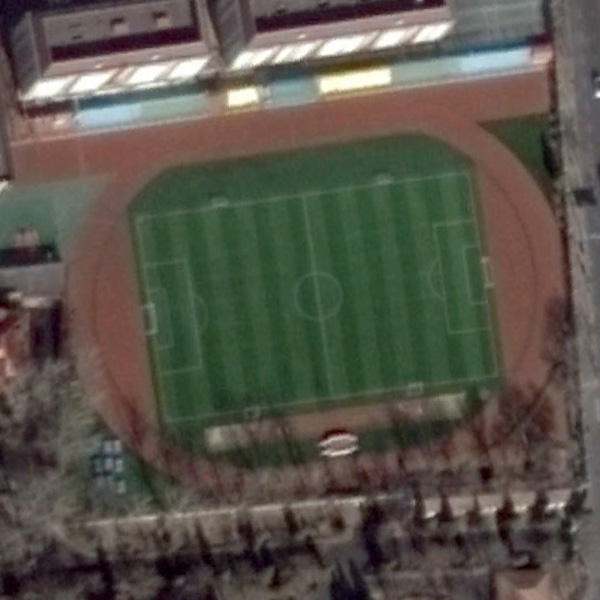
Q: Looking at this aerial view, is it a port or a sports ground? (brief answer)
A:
sports ground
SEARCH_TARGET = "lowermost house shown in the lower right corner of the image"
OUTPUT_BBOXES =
[490,568,553,600]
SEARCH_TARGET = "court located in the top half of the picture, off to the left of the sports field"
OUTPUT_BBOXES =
[0,175,114,269]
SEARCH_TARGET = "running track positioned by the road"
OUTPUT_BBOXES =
[5,65,564,491]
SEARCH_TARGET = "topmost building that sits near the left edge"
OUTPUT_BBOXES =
[15,0,216,107]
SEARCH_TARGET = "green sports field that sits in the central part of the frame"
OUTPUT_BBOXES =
[126,129,507,468]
